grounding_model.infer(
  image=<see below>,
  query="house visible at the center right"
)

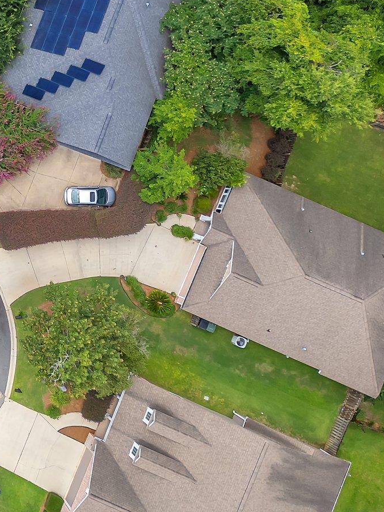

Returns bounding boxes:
[176,172,384,399]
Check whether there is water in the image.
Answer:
No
